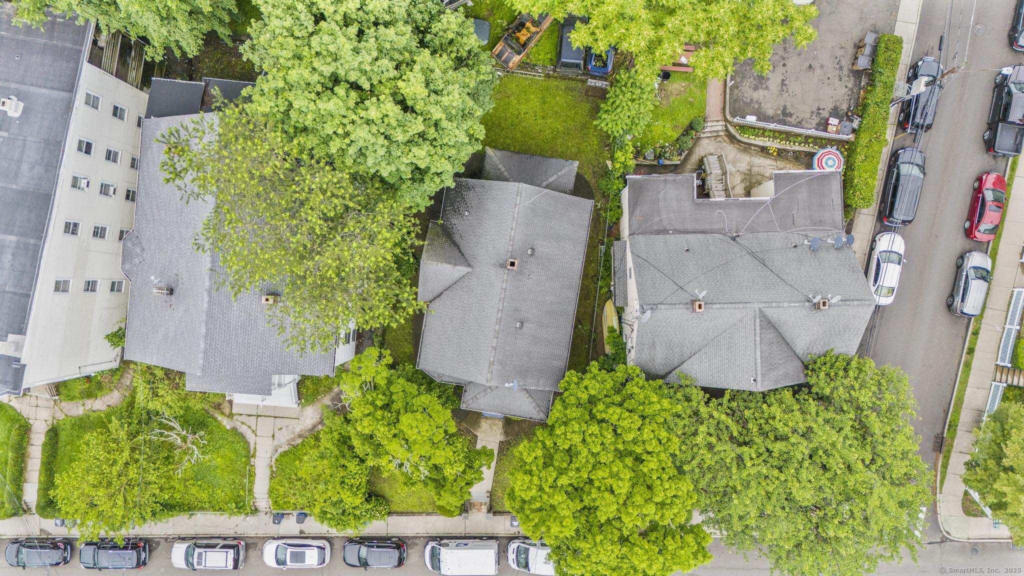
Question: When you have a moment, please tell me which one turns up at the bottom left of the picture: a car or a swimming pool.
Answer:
car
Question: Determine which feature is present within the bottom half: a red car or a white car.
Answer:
white car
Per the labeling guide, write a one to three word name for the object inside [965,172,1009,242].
car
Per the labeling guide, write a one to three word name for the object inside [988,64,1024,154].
truck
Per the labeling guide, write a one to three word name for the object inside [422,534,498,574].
van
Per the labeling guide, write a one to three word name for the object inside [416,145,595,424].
house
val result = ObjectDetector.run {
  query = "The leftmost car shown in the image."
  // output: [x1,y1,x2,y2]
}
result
[7,537,75,571]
